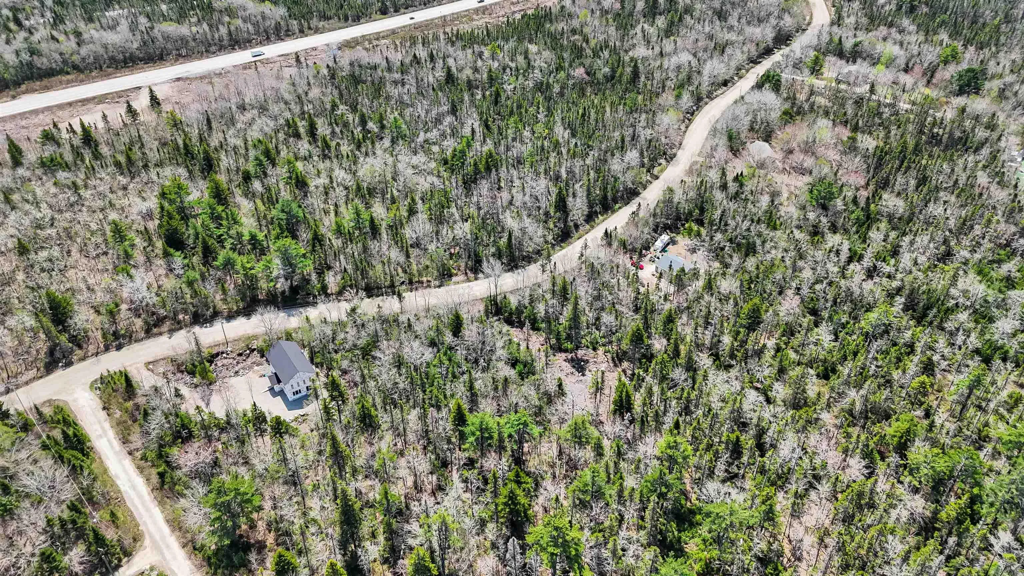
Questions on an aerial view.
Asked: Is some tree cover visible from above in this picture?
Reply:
Yes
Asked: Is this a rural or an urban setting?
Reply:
rural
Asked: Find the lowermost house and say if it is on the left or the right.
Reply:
left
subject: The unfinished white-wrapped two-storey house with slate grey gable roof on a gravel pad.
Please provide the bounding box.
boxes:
[260,342,317,401]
